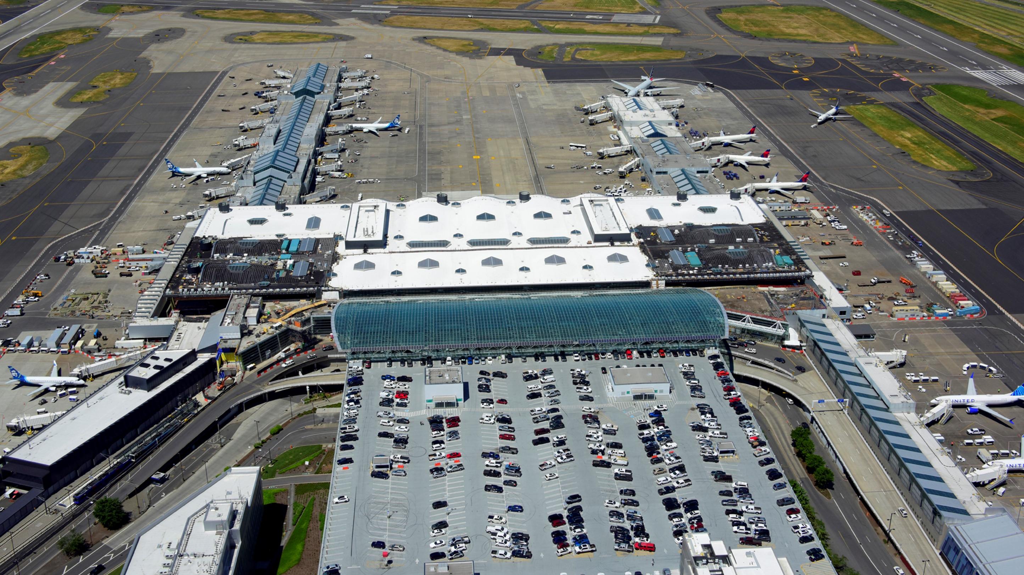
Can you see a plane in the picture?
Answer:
Yes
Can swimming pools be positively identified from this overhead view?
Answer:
No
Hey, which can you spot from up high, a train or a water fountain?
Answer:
train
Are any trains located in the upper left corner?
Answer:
No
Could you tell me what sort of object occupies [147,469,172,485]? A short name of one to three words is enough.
vehicle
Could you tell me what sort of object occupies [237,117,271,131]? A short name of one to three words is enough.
jet bridge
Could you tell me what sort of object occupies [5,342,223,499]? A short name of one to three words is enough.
building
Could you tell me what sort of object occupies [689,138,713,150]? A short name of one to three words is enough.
jet bridge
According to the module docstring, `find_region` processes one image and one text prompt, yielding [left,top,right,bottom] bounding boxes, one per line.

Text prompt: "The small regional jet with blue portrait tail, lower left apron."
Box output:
[3,361,85,397]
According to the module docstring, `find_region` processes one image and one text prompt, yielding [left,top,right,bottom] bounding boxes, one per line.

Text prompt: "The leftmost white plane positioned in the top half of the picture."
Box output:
[164,157,231,179]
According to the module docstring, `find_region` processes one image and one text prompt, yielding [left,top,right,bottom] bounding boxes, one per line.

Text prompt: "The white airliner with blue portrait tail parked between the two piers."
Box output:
[342,113,402,132]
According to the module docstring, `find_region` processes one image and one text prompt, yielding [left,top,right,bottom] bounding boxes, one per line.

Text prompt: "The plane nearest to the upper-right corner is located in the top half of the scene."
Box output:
[807,96,860,124]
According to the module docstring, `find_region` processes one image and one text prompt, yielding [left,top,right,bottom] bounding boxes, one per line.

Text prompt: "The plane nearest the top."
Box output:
[620,69,674,96]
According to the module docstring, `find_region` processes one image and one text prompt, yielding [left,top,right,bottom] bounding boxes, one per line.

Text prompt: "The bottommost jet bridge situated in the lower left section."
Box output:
[5,409,70,435]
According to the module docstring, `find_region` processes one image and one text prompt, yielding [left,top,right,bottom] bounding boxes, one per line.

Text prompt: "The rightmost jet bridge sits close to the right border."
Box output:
[964,463,1012,488]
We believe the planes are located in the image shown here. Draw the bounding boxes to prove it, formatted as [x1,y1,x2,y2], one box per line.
[807,96,860,124]
[930,372,1024,422]
[712,147,774,166]
[342,113,402,132]
[982,458,1024,470]
[620,69,674,96]
[164,157,231,179]
[741,169,816,194]
[3,361,85,397]
[703,125,760,145]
